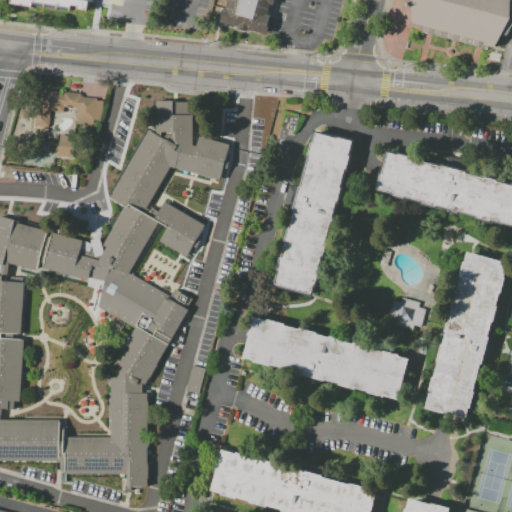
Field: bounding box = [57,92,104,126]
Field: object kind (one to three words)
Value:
house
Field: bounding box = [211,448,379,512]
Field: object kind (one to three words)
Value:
building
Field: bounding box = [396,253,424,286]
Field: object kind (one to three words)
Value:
swimming pool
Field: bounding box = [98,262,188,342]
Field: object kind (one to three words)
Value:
building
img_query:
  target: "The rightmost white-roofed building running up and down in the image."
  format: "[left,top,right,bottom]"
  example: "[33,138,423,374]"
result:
[424,251,504,418]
